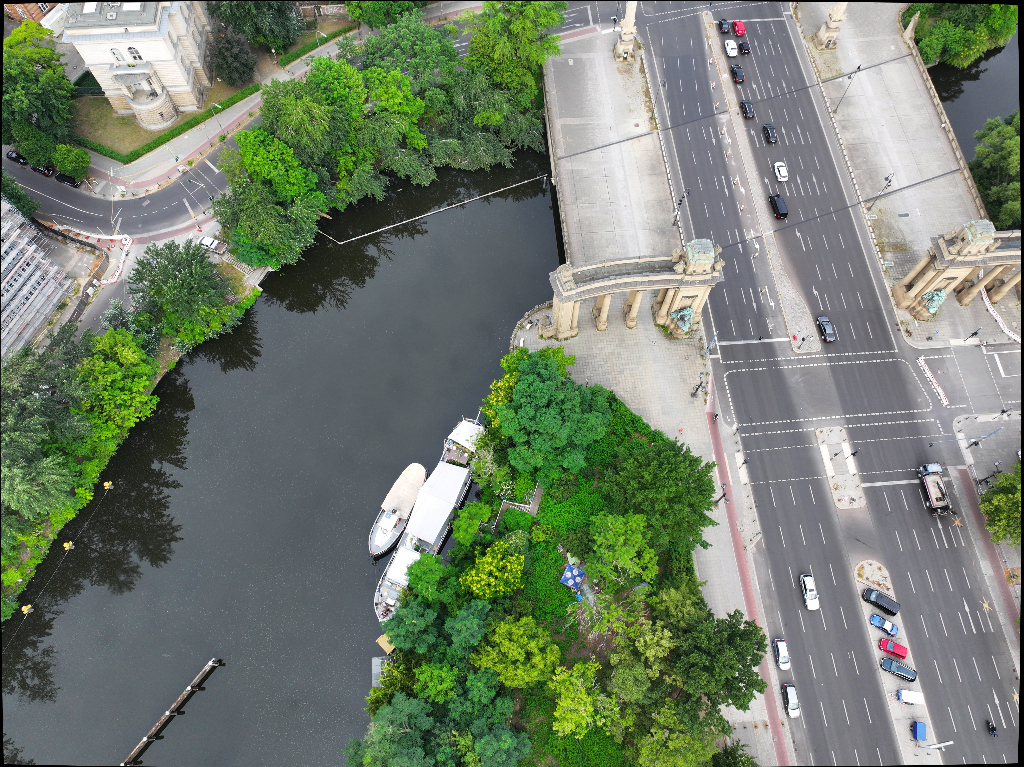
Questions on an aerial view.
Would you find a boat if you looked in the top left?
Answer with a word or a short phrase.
No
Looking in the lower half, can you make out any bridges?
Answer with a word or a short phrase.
No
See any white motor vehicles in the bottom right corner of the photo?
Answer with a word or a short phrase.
Yes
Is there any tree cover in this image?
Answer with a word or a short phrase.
Yes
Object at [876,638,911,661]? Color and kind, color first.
red car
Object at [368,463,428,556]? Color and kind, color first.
white boat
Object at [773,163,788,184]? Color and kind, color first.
white car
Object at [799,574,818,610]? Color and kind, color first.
white car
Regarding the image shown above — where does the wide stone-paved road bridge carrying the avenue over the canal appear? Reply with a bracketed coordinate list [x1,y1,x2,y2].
[543,5,982,268]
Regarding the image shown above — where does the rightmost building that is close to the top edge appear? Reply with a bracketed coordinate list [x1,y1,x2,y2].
[65,0,217,131]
